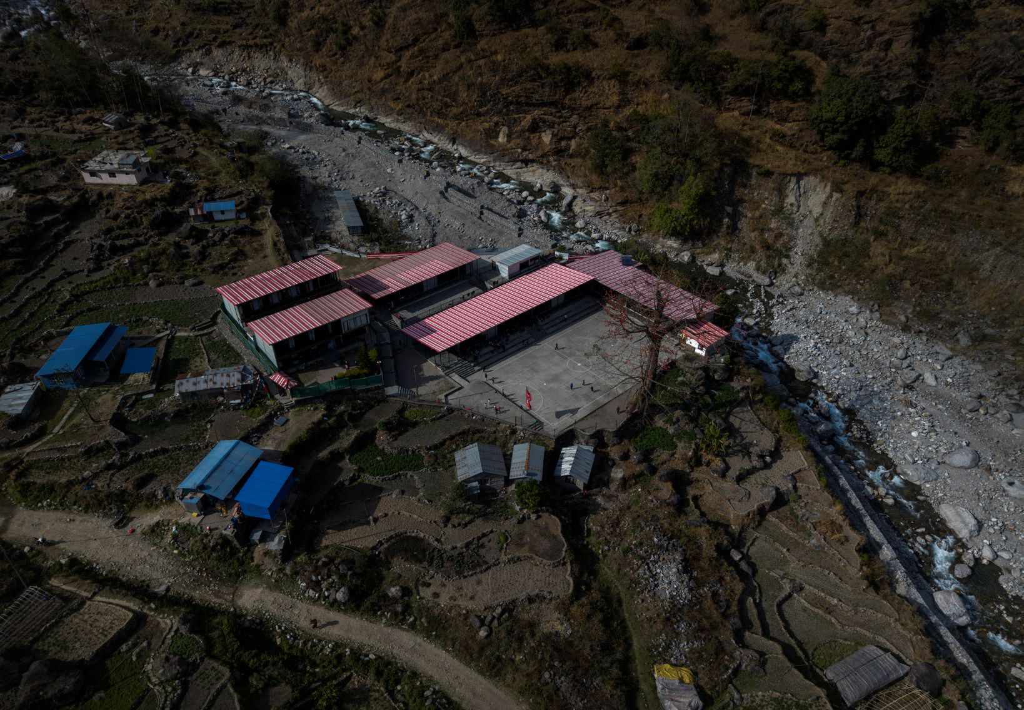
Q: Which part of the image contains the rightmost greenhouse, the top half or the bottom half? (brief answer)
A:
bottom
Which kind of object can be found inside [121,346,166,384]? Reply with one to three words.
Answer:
shed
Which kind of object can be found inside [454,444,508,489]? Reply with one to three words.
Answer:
shed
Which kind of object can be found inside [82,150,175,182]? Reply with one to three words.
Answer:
house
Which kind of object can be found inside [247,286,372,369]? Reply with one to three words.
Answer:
building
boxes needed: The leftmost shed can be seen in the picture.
[0,383,47,428]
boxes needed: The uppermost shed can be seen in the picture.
[102,114,132,132]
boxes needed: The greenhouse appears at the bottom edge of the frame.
[824,646,910,710]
